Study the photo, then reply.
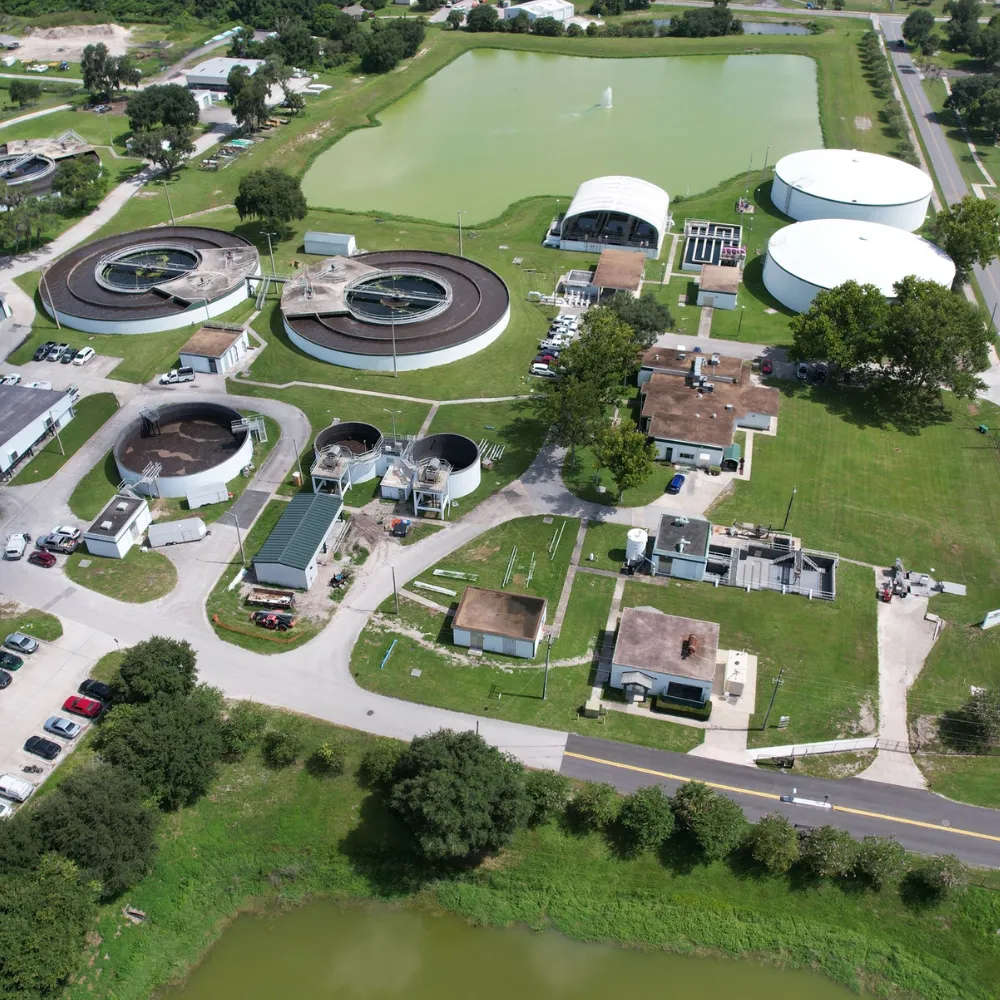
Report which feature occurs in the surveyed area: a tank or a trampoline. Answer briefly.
tank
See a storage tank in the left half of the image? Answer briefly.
Yes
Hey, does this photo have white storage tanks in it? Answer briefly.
Yes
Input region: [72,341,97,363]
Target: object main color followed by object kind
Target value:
white vehicle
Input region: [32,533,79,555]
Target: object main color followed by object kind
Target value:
gray truck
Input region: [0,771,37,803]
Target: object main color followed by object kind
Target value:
white van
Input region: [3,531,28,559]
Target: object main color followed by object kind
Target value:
white car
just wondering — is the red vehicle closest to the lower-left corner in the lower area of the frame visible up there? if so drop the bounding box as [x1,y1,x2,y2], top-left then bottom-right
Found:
[60,696,104,720]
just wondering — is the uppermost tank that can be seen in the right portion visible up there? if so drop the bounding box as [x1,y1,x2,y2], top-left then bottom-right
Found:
[771,148,934,226]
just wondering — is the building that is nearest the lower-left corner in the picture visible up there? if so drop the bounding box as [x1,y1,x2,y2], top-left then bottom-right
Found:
[84,498,147,557]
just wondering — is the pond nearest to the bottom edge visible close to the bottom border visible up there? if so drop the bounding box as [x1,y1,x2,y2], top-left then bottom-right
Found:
[148,896,874,1000]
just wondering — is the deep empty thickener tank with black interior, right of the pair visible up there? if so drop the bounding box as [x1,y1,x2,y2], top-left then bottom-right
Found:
[408,433,480,521]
